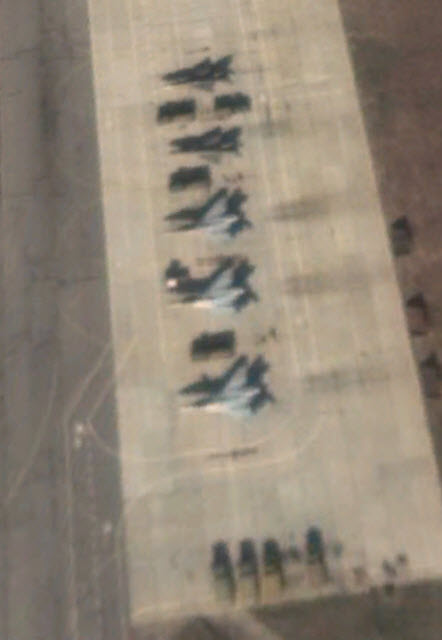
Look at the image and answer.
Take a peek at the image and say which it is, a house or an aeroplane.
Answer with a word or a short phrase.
aeroplane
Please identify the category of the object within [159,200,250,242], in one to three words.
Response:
airplane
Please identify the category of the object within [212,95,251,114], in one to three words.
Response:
vehicle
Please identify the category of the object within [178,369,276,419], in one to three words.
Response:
airplane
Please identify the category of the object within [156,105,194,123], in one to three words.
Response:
vehicle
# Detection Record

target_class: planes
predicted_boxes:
[168,130,240,159]
[160,61,231,88]
[167,270,260,315]
[159,200,250,242]
[178,369,276,419]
